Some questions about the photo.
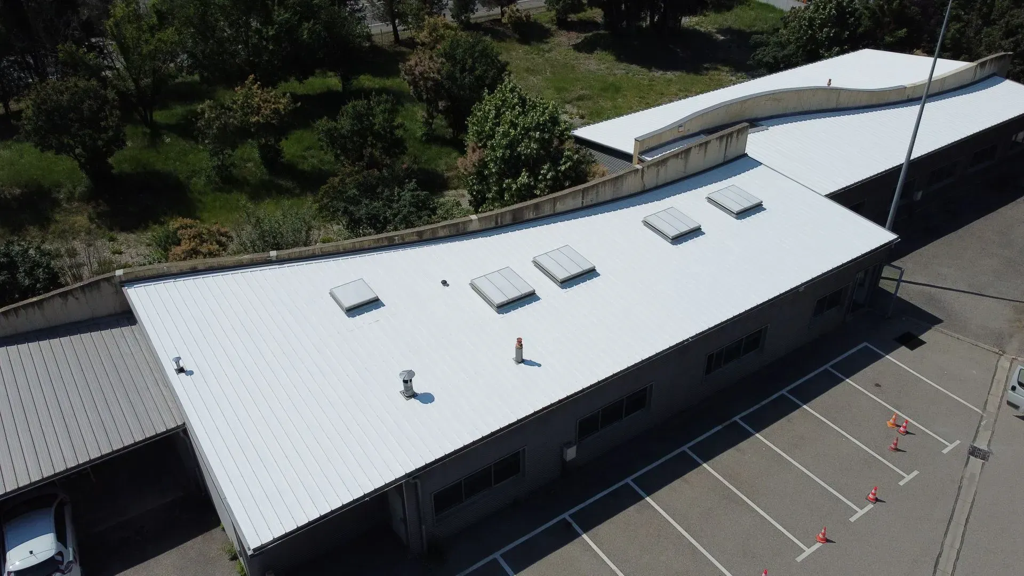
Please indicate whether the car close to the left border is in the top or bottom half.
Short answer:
bottom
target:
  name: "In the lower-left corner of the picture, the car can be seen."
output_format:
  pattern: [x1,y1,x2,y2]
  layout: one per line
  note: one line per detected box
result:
[0,490,82,576]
